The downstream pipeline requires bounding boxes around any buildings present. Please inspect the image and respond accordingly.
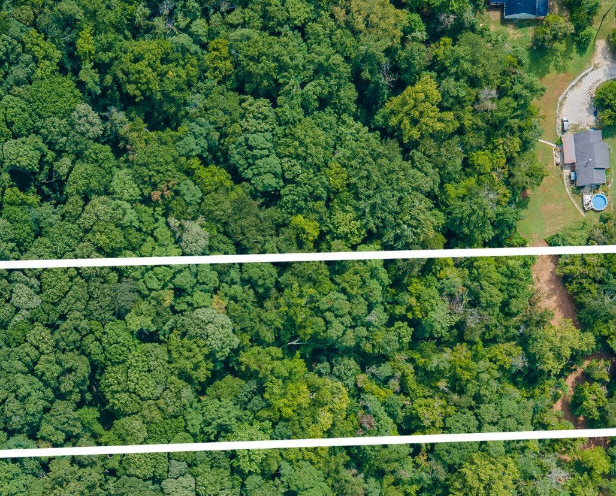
[562,131,610,187]
[497,0,549,20]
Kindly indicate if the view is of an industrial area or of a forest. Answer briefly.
forest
